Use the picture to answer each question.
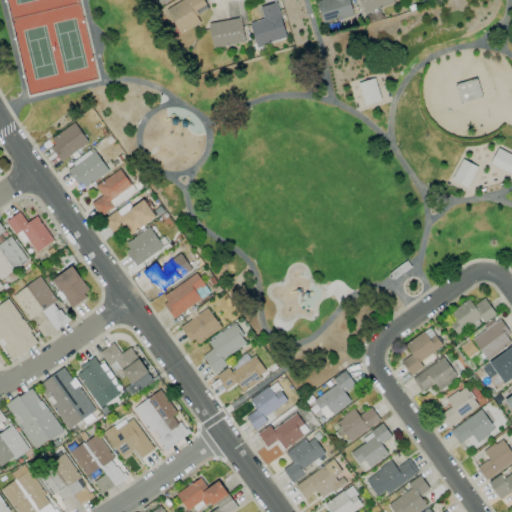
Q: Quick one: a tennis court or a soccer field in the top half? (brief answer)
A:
tennis court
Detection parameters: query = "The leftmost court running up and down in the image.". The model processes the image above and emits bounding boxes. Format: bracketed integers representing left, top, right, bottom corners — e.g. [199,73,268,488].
[24,25,59,80]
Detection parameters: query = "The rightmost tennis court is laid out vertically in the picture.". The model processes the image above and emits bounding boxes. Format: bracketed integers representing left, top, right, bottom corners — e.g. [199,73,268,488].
[54,18,88,73]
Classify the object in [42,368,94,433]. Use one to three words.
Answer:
house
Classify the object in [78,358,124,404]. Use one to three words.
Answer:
house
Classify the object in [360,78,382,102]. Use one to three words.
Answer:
building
